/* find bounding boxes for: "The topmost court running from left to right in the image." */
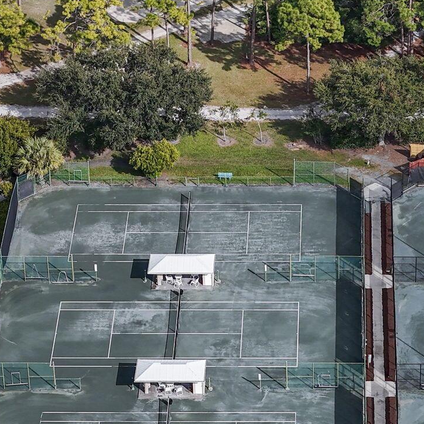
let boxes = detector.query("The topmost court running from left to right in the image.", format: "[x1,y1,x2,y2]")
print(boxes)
[0,185,365,283]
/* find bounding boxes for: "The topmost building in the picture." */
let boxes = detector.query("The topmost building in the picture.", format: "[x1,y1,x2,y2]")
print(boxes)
[148,253,215,289]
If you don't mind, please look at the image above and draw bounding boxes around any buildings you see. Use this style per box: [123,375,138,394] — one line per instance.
[148,253,215,289]
[134,359,207,398]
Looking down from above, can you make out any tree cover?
Yes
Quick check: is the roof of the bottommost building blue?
No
